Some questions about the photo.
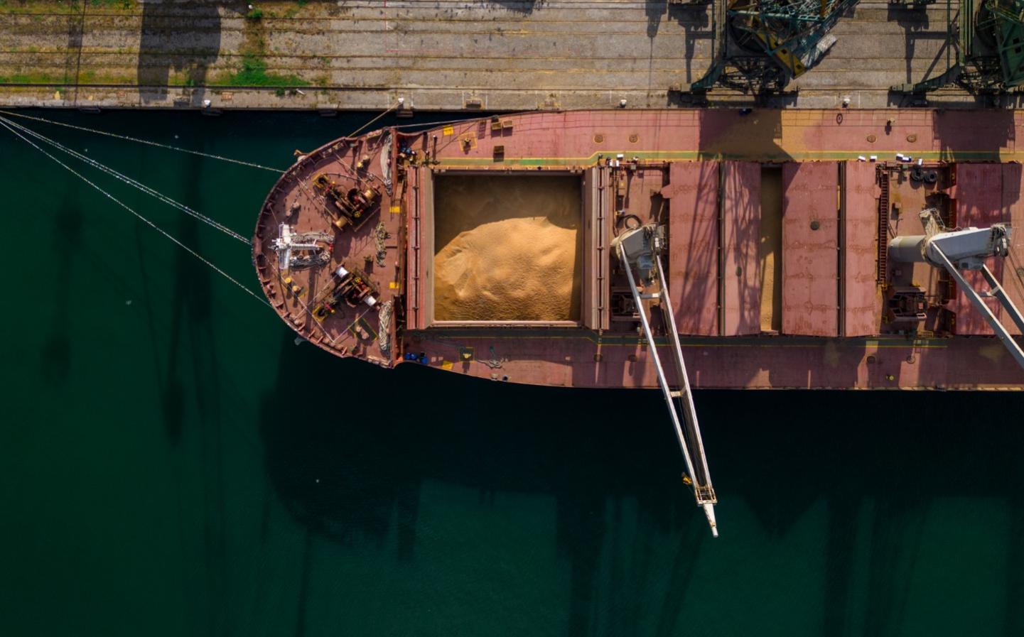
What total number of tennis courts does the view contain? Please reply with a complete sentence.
The count of tennis courts is 0.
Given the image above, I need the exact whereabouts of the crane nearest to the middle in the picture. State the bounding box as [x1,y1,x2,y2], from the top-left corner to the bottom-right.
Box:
[612,204,719,536]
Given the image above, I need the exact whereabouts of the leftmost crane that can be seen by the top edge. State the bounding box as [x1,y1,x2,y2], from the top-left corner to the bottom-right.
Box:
[674,0,847,91]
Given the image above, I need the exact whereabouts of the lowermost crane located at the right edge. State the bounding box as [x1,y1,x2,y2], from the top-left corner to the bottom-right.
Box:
[891,204,1024,355]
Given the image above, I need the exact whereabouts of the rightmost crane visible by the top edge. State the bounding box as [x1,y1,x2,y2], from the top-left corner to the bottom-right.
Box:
[899,0,1024,91]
